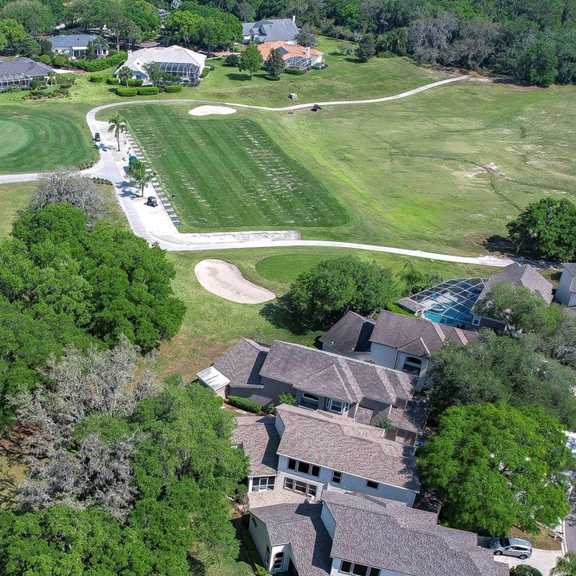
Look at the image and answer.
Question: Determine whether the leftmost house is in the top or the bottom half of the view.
top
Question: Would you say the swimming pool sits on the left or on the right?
right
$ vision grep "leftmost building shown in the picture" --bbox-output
[0,55,60,84]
